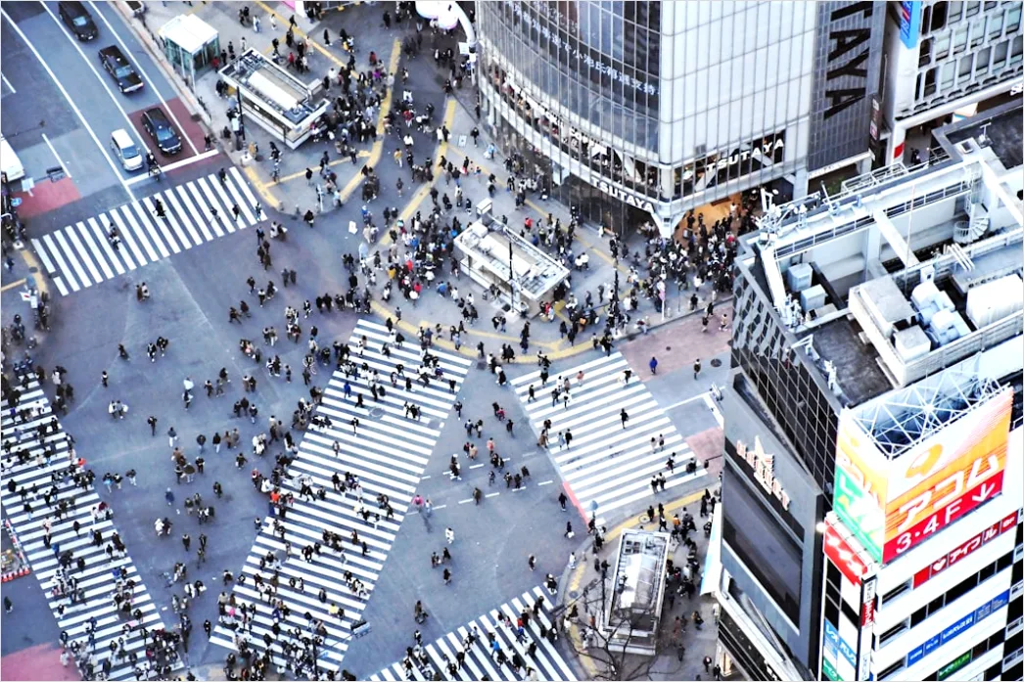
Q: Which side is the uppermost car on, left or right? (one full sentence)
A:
The uppermost car sits on the left side.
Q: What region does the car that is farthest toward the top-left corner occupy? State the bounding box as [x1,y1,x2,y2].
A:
[54,0,103,40]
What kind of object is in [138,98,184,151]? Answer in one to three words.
car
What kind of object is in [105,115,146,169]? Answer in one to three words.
car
